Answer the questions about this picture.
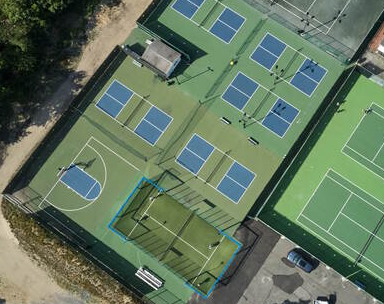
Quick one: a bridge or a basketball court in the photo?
basketball court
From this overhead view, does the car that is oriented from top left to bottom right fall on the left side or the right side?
right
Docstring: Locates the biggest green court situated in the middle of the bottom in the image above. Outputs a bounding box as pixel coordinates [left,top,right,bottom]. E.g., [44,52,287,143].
[107,176,242,299]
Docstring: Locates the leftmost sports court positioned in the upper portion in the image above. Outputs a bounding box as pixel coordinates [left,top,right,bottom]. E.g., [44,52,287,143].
[95,79,173,146]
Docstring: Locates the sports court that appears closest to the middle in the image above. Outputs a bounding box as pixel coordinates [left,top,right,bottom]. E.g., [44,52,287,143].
[175,134,257,204]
